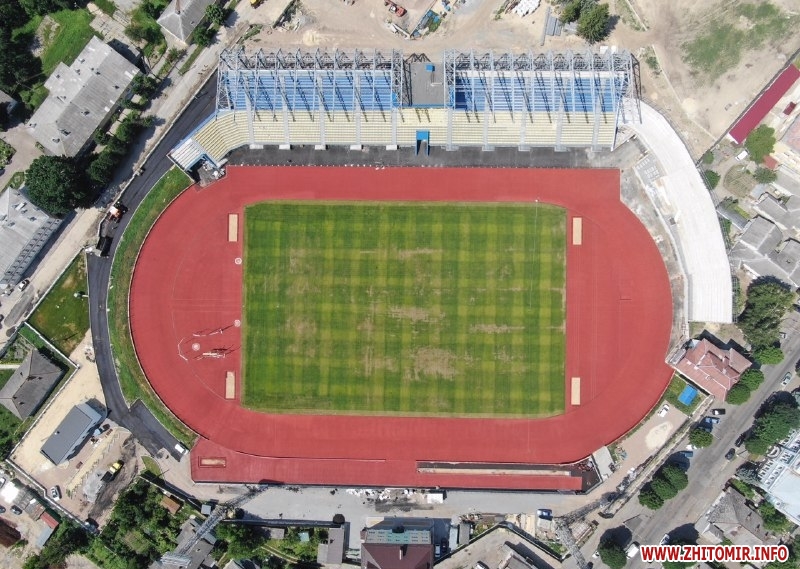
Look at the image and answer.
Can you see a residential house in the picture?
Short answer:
Yes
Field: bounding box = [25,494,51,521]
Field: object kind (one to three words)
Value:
shed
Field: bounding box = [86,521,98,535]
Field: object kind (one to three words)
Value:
vehicle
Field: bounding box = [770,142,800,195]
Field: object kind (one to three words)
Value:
house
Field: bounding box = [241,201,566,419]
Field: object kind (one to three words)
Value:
soccer field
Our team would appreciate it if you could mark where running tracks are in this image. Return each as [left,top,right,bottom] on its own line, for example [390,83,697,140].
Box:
[129,166,675,492]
